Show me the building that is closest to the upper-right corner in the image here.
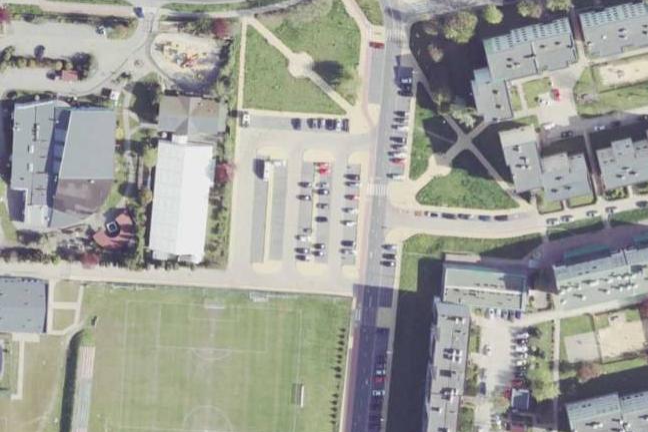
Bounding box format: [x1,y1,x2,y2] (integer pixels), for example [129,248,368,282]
[578,0,648,60]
